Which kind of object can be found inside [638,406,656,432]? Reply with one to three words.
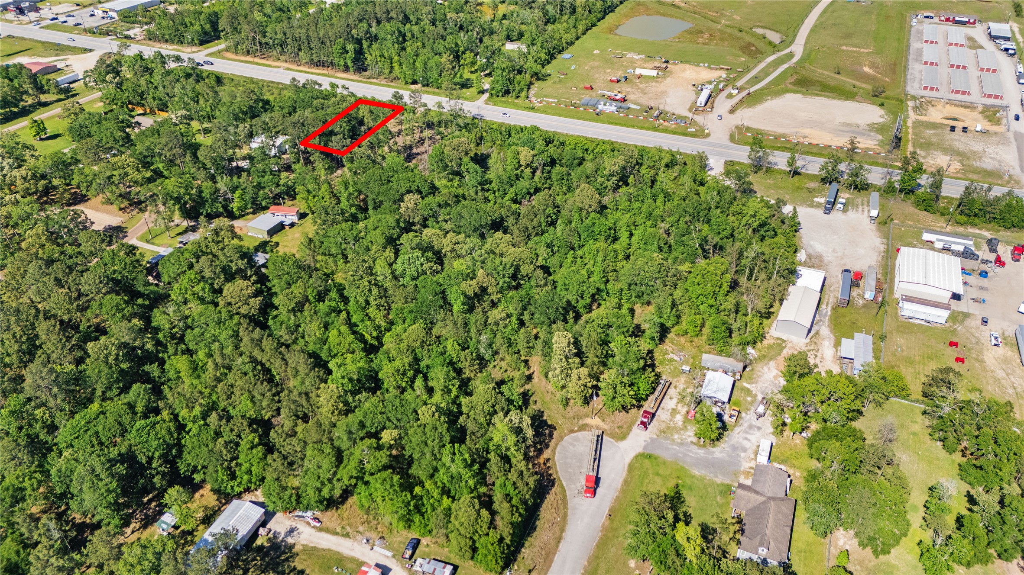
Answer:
vehicle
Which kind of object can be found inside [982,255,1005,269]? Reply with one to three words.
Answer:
vehicle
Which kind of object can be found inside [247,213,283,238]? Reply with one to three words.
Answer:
building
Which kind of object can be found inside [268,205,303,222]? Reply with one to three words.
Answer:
shed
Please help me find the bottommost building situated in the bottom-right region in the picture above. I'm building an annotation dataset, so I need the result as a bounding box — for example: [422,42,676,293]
[731,461,795,574]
